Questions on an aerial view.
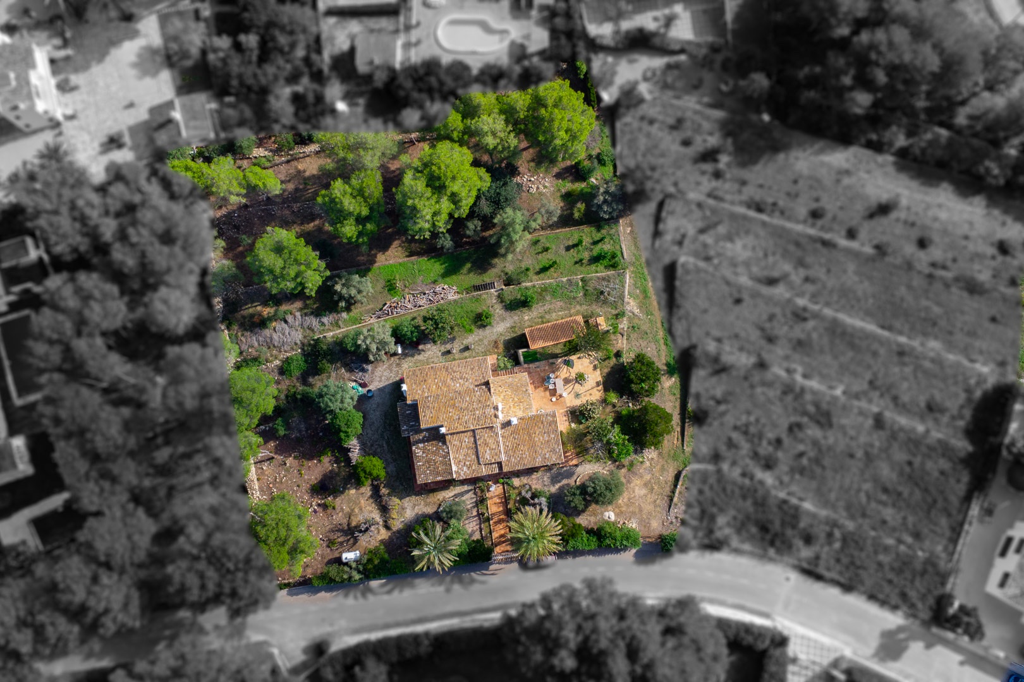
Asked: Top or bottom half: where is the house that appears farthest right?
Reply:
bottom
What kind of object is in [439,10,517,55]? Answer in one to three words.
swimming pool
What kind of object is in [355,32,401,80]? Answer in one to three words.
building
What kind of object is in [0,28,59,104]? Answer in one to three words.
house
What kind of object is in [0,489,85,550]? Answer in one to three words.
house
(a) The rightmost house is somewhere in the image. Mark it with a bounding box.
[970,509,1024,610]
